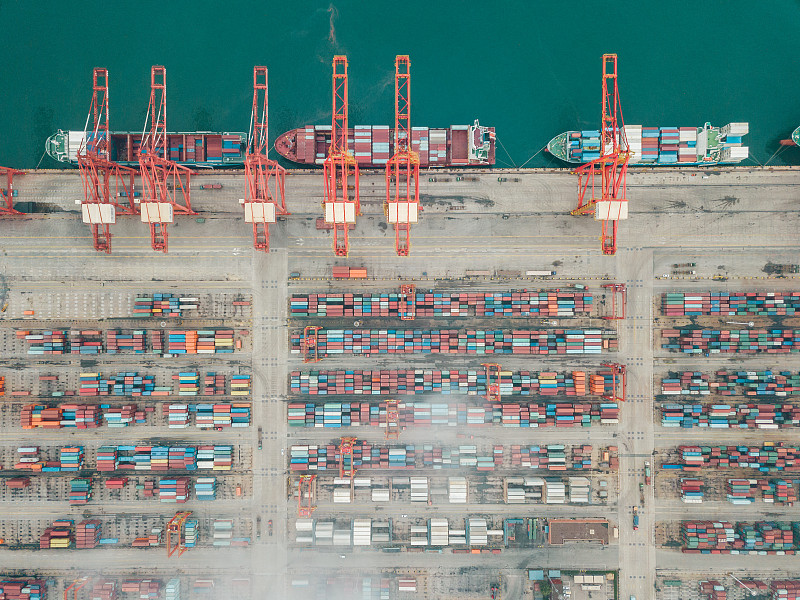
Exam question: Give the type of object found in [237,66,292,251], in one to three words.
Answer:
container crane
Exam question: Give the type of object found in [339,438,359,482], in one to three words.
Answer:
container crane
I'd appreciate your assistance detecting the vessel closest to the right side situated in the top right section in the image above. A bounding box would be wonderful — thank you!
[778,127,800,152]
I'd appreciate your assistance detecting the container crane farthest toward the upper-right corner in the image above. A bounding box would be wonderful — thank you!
[569,52,633,258]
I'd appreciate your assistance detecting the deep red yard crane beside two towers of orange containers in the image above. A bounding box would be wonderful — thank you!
[598,364,627,405]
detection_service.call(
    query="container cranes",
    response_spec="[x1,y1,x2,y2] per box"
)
[383,53,422,258]
[0,165,26,214]
[479,365,502,405]
[76,66,145,251]
[166,512,195,558]
[399,283,417,320]
[598,284,627,321]
[320,53,364,258]
[134,66,198,251]
[569,52,633,258]
[304,326,325,365]
[385,400,403,442]
[237,66,292,251]
[339,438,359,482]
[298,475,320,520]
[598,364,627,405]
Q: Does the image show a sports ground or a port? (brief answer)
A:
port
